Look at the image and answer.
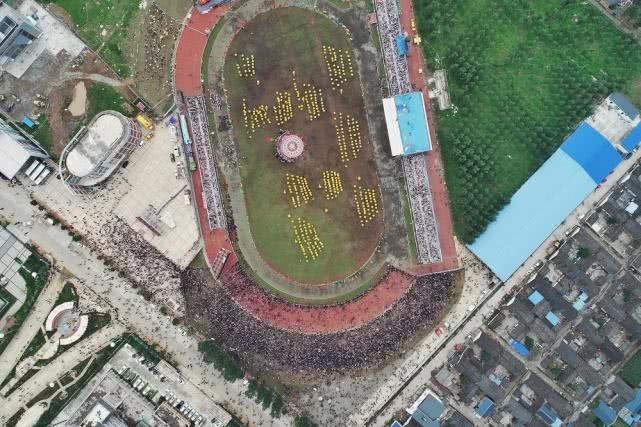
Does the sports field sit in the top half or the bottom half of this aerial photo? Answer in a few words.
top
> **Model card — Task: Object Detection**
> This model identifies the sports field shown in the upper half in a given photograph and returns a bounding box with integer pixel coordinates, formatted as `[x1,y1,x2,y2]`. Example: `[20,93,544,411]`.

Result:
[220,4,387,287]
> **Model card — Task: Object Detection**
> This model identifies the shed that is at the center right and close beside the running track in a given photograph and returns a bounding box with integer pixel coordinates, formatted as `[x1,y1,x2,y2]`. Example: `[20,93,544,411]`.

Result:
[466,148,597,282]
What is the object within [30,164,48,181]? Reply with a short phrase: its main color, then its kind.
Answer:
white vehicle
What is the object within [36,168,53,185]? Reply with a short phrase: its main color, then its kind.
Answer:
white vehicle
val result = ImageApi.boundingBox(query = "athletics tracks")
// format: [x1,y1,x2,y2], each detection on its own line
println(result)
[205,0,418,305]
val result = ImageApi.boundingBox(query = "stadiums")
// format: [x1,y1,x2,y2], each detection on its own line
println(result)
[175,0,464,334]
